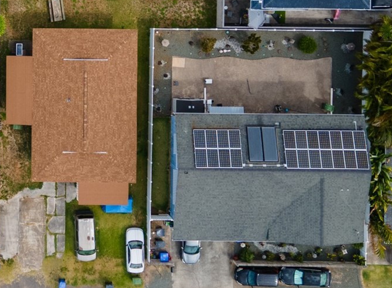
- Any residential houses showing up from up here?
Yes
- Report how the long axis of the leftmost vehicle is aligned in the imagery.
from top to bottom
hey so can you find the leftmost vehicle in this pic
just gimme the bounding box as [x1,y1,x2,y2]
[74,207,99,261]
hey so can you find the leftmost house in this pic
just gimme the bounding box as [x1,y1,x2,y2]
[7,28,138,205]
